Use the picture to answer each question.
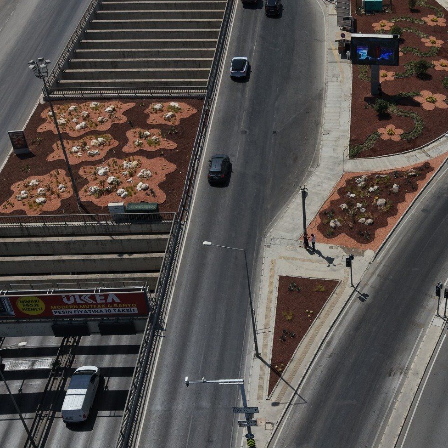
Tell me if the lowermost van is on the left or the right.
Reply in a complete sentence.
The lowermost van appears in the left half of the scene.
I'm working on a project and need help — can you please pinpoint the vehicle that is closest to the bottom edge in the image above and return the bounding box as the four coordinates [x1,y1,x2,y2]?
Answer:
[59,372,101,424]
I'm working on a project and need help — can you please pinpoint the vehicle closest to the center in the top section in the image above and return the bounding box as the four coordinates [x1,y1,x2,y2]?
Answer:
[208,155,231,187]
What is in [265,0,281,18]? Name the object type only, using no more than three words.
car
